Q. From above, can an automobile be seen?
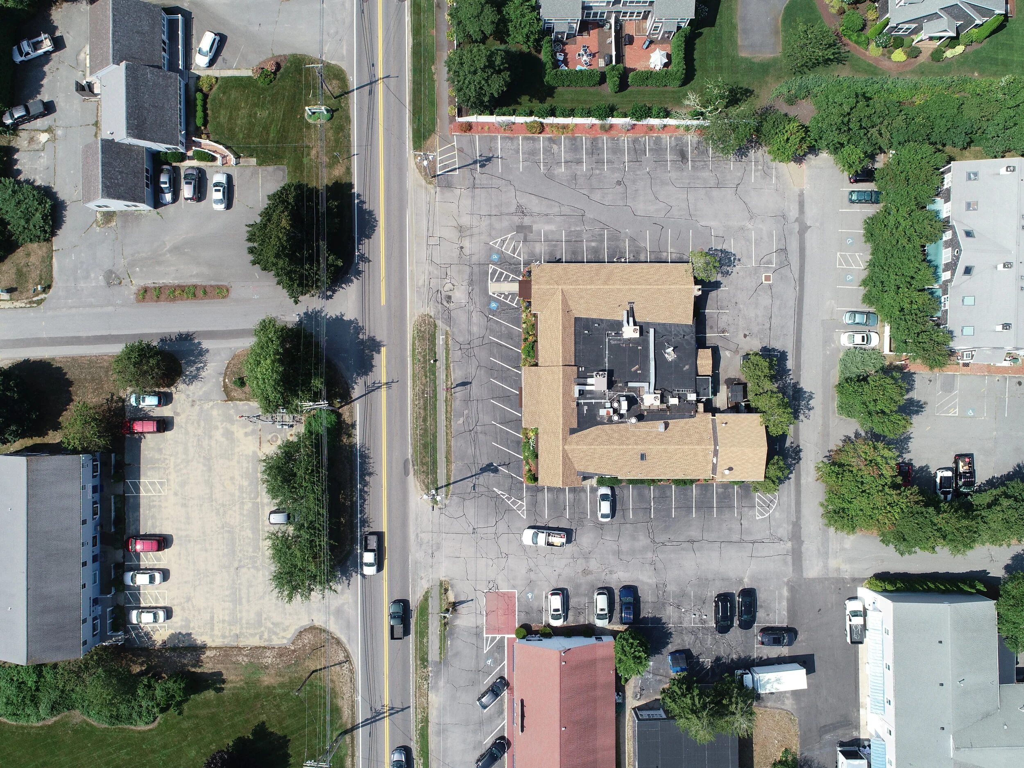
Yes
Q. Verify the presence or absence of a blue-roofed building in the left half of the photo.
No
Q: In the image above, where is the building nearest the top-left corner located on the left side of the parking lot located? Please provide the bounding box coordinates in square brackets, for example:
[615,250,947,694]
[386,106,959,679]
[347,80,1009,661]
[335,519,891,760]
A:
[82,0,195,209]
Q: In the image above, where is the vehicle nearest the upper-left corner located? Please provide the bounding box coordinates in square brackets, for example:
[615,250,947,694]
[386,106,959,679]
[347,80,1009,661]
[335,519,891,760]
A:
[12,30,57,65]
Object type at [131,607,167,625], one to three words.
car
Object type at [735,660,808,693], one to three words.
truck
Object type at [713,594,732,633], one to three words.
car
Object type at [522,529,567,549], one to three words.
vehicle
